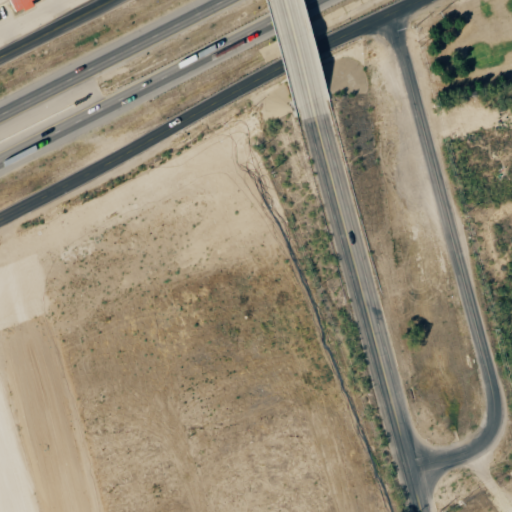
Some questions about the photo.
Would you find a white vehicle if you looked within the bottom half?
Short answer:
No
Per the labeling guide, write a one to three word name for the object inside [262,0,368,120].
bridge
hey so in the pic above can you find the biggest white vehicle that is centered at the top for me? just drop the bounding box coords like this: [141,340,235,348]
[178,39,228,69]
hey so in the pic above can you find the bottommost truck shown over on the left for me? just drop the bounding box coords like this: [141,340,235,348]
[3,138,51,166]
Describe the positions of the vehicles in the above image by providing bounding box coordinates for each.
[142,80,152,88]
[178,39,228,69]
[168,118,182,127]
[214,30,262,58]
[42,128,54,136]
[88,104,102,114]
[3,138,51,166]
[0,6,7,18]
[122,94,137,104]
[75,64,86,72]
